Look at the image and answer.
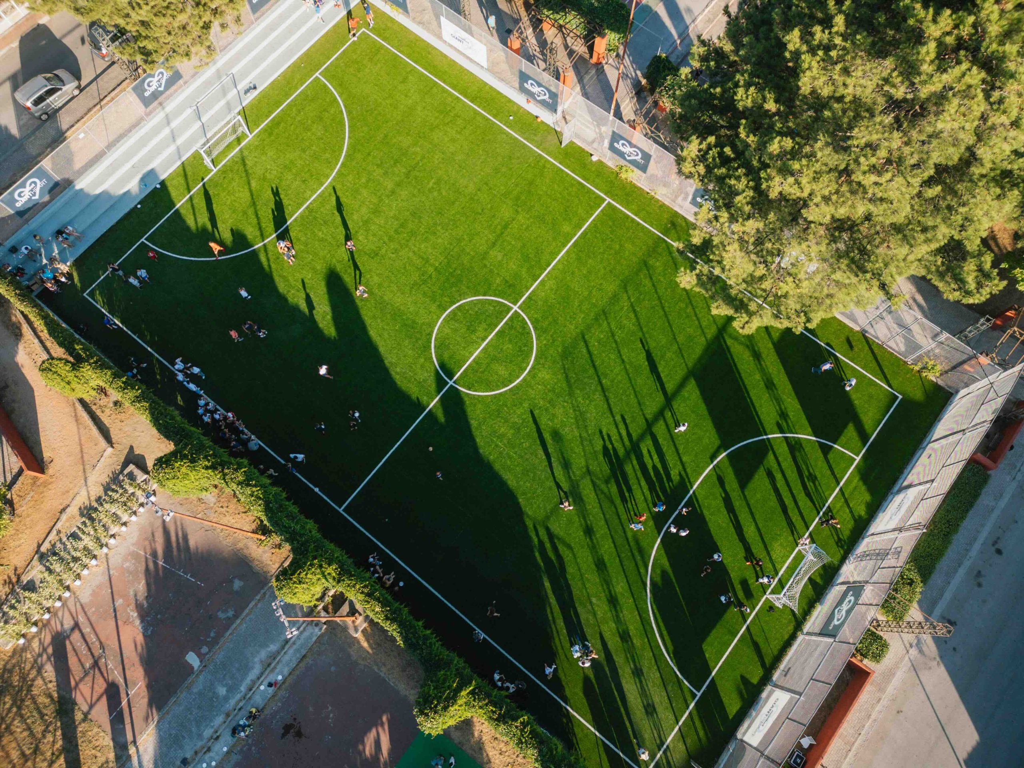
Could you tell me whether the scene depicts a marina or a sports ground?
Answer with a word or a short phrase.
sports ground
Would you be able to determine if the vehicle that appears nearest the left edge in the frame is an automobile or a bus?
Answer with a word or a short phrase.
automobile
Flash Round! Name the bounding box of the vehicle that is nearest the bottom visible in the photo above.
[13,70,78,123]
